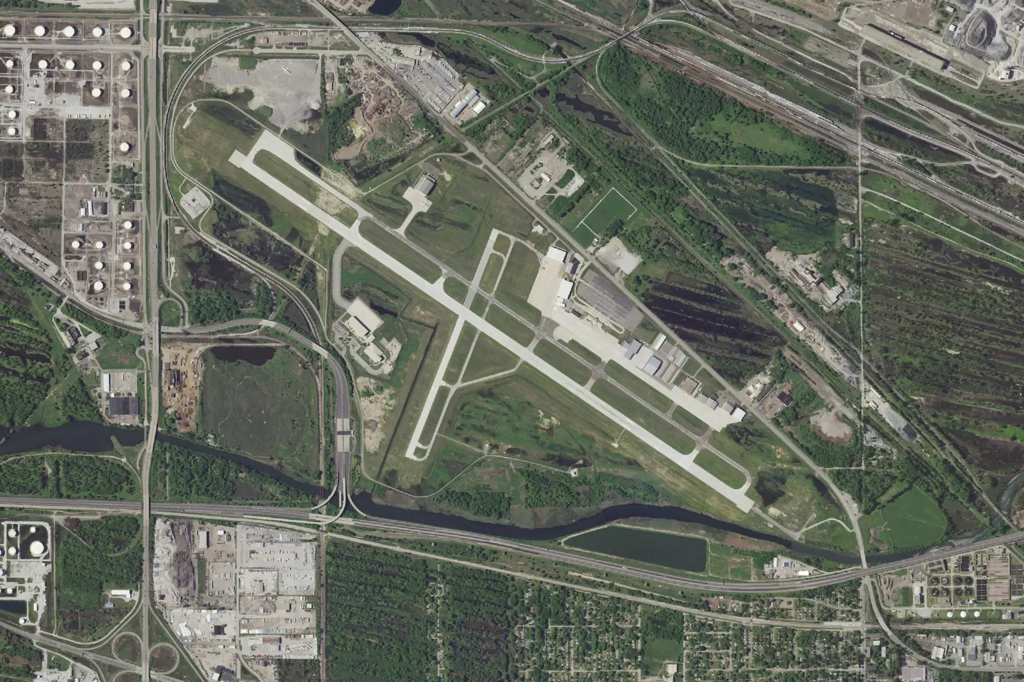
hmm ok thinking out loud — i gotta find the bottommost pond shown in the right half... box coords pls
[565,526,707,573]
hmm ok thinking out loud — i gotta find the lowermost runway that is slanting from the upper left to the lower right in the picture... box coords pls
[240,157,744,503]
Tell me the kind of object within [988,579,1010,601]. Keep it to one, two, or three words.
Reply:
building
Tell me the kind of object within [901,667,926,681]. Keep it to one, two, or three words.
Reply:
building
